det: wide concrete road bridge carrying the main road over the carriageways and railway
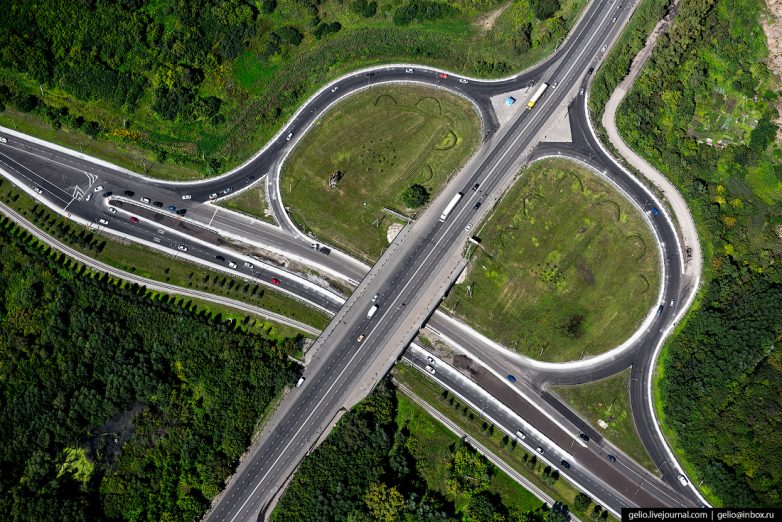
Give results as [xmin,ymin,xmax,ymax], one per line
[302,214,467,396]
